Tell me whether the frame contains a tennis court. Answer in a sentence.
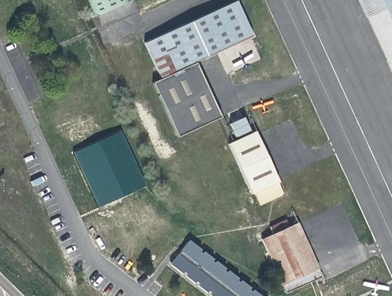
No, the scene contains no tennis court.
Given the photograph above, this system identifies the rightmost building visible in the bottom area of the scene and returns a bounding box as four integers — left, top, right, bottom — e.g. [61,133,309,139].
[262,220,323,292]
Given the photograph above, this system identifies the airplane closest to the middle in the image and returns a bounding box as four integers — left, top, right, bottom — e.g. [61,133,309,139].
[252,100,274,114]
